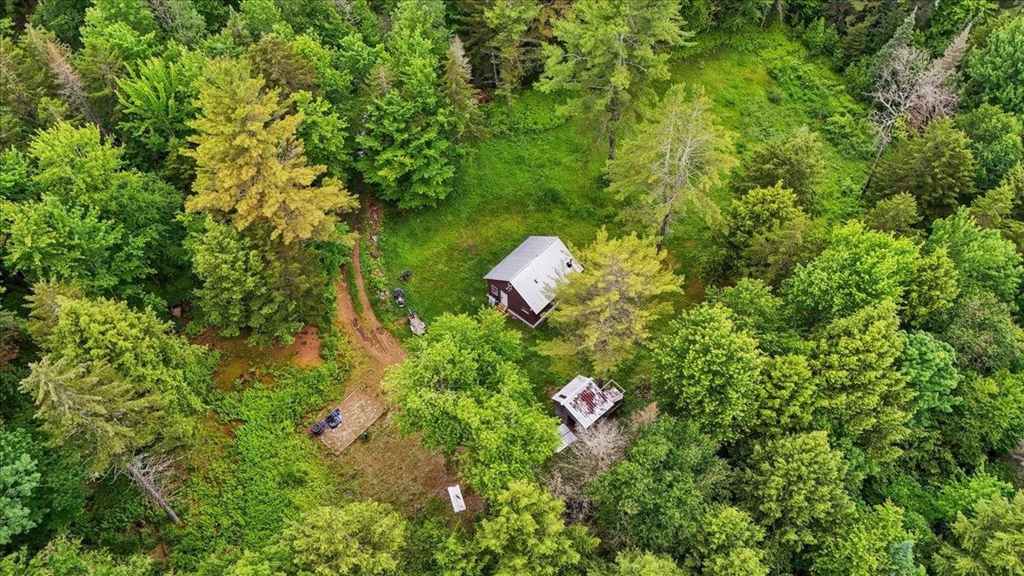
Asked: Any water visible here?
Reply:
No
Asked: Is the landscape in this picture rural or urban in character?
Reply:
rural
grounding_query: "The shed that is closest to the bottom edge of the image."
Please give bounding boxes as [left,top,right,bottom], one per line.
[553,375,626,441]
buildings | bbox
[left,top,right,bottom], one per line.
[553,375,626,441]
[484,235,583,329]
